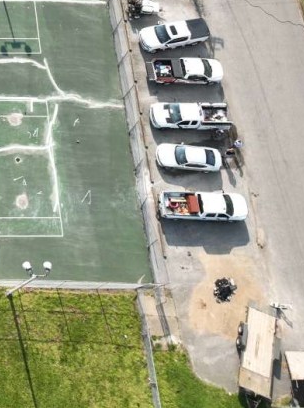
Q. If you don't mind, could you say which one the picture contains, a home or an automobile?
automobile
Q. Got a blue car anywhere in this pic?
No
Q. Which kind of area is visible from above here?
sports ground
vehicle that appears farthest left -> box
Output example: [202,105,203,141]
[126,0,164,19]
